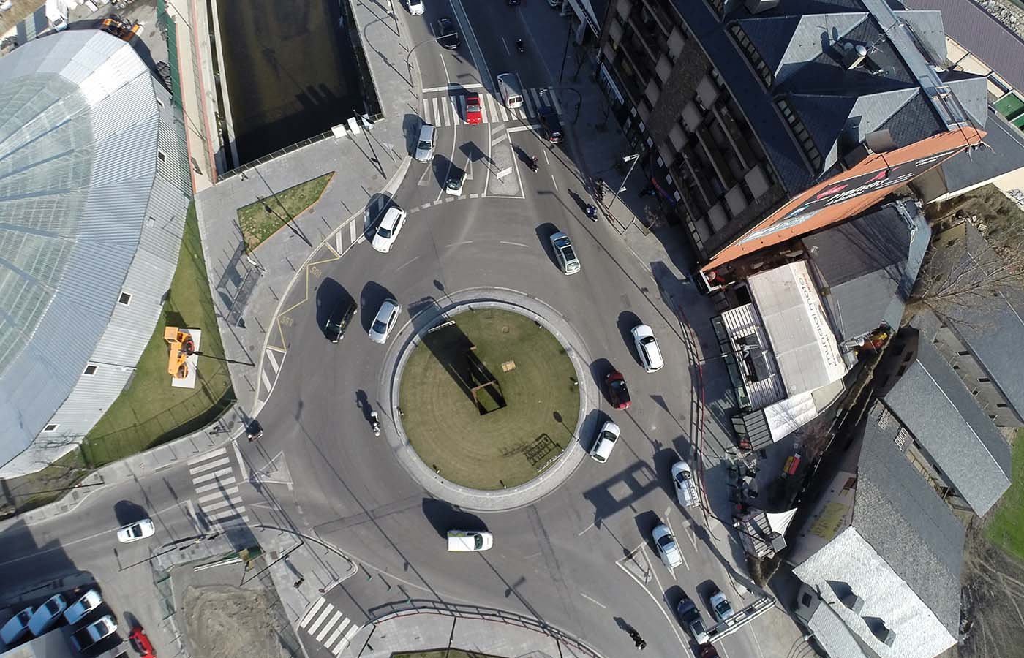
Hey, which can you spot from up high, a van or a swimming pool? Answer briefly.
van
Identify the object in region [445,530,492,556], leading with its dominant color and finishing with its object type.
white vehicle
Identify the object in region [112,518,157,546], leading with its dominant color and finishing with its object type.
white car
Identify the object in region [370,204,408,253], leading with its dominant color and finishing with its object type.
white car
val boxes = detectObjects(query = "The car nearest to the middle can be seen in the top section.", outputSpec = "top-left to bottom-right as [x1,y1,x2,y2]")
[551,231,579,275]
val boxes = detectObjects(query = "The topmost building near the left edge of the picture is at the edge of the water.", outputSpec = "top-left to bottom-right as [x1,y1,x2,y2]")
[0,27,192,482]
